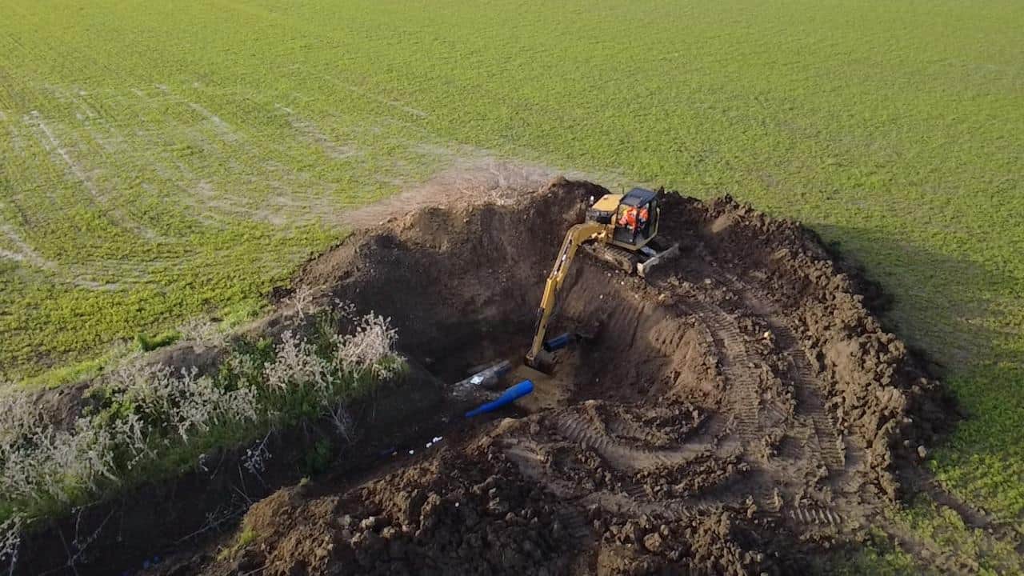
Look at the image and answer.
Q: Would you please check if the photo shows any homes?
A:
No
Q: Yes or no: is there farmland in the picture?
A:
Yes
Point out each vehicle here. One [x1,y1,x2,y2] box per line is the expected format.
[514,182,683,379]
